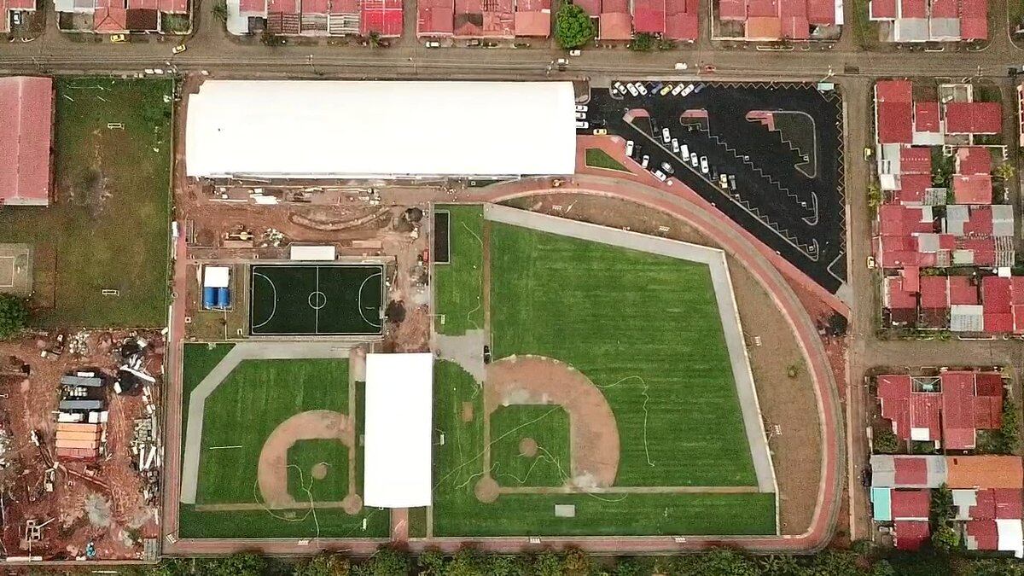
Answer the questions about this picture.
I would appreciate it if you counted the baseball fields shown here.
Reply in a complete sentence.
My tally gives 2 baseball fields in this view.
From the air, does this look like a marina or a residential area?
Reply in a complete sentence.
This image shows a residential area.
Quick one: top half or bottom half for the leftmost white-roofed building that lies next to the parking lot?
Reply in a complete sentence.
The top half of the photo is where the leftmost white-roofed building that lies next to the parking lot is.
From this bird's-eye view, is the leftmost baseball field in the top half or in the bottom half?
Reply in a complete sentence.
The bottom half of the photo is where the leftmost baseball field is.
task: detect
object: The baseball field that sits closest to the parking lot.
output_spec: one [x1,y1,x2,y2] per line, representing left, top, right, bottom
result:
[433,202,780,538]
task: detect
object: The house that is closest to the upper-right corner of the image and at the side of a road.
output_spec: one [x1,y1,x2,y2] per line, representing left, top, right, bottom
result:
[958,0,988,41]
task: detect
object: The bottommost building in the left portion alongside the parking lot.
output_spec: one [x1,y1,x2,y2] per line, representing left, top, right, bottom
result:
[186,81,576,181]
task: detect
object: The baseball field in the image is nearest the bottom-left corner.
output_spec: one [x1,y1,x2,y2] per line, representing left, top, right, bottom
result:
[178,341,390,539]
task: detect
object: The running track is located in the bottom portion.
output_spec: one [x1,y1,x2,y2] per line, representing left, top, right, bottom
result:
[162,175,845,555]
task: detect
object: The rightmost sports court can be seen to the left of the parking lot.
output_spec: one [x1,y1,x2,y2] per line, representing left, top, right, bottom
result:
[239,259,389,341]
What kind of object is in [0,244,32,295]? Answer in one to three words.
basketball court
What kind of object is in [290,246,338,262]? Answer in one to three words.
building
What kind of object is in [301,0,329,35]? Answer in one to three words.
house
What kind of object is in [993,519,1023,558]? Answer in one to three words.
house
